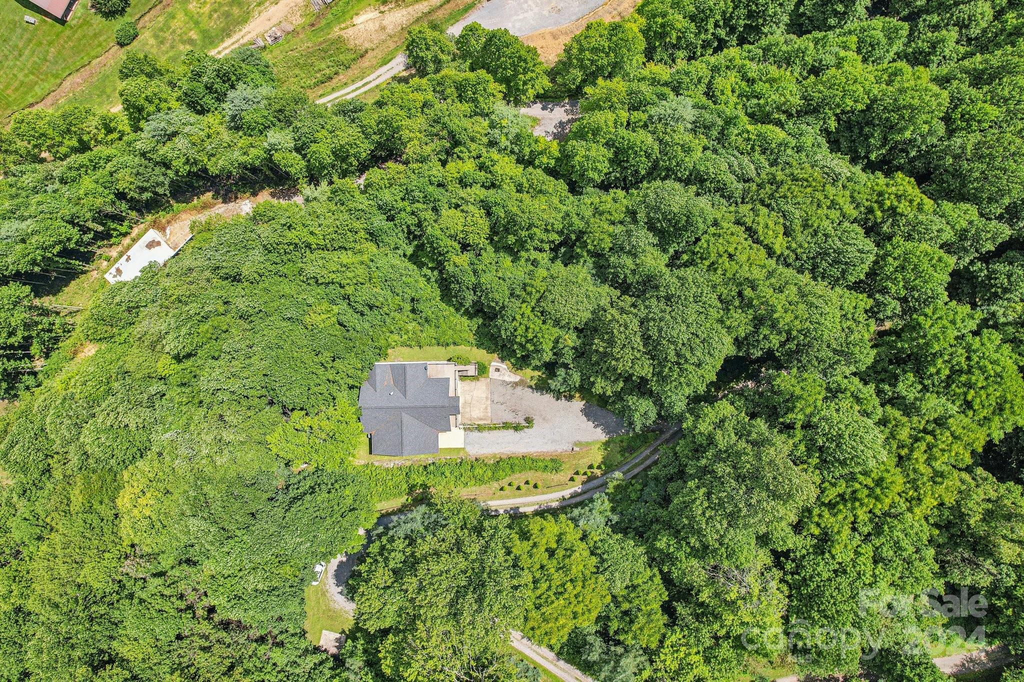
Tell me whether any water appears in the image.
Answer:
No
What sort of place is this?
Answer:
forest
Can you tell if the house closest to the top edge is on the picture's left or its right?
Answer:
left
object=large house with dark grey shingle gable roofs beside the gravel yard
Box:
[359,363,477,457]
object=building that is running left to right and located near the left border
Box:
[30,0,92,29]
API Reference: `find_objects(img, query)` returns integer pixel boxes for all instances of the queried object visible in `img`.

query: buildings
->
[30,0,92,29]
[104,228,180,293]
[359,363,477,457]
